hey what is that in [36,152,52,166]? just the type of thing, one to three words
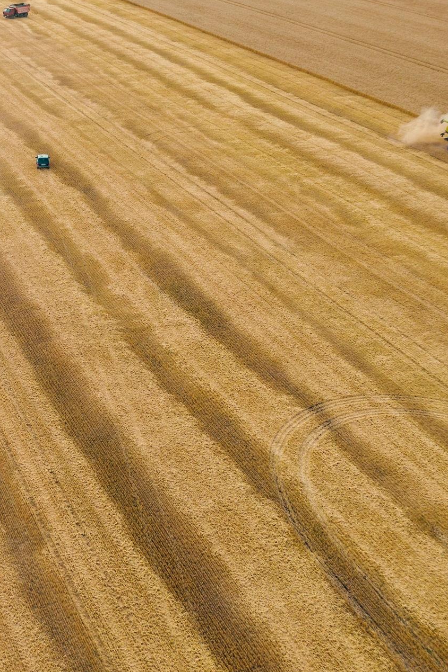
car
